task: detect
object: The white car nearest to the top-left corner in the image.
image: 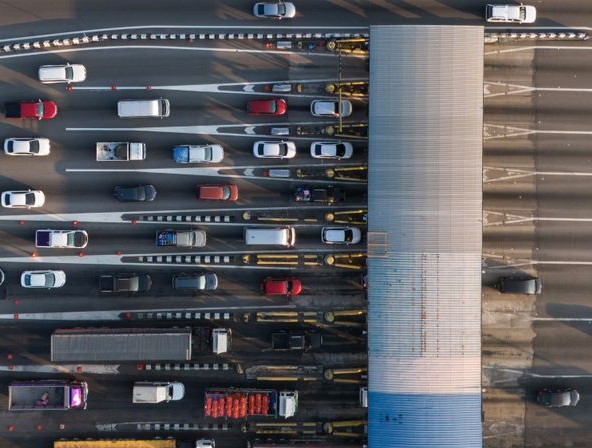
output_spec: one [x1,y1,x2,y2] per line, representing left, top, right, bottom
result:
[38,62,88,85]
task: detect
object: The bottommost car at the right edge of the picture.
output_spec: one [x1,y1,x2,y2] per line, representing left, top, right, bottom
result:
[537,388,579,408]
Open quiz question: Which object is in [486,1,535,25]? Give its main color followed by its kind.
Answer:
white truck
